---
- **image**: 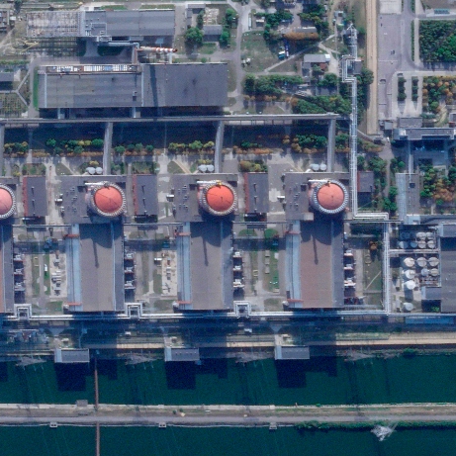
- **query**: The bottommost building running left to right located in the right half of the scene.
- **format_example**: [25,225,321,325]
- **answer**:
[274,345,308,358]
